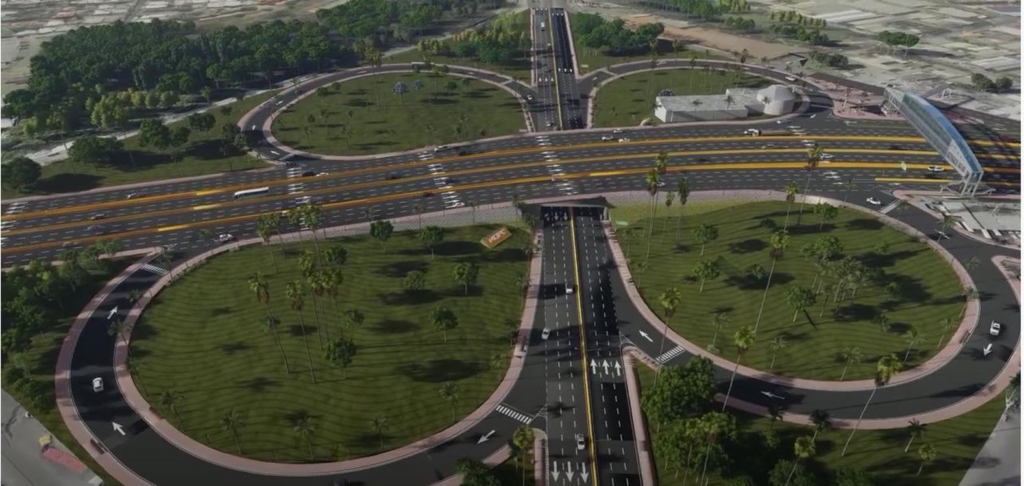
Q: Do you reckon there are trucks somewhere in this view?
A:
Yes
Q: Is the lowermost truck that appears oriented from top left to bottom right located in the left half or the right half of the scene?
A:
left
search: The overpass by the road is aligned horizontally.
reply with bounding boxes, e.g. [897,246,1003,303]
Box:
[530,195,615,233]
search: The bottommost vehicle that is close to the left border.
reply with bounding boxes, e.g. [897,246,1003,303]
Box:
[40,434,81,466]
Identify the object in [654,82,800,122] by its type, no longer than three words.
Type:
building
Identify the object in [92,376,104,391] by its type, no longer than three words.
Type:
vehicle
